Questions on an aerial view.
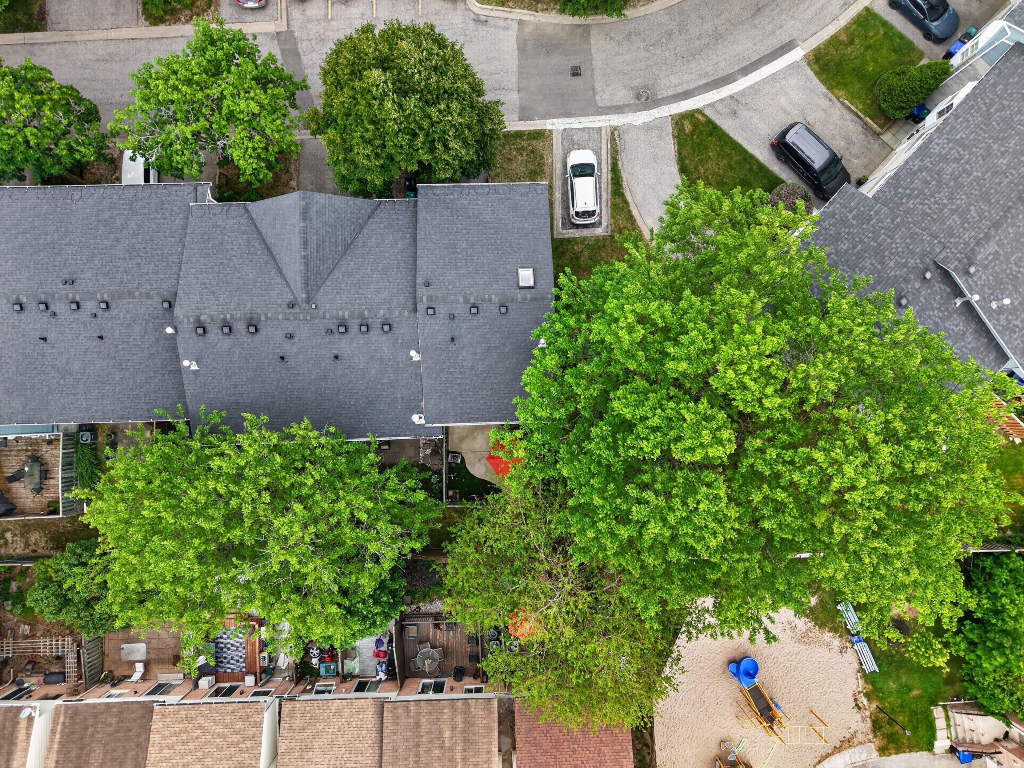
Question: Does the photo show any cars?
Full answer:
Yes, the frame does contain a car.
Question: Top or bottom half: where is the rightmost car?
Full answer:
Seen from above, the rightmost car lies in the top half of the view.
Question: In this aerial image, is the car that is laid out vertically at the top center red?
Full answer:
No, the car that is laid out vertically at the top center is white.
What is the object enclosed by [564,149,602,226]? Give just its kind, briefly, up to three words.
car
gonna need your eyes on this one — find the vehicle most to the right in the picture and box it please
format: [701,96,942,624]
[888,0,964,45]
